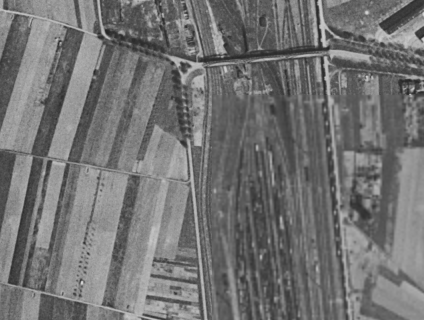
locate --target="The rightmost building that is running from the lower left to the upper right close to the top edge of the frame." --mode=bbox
[384,0,424,31]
